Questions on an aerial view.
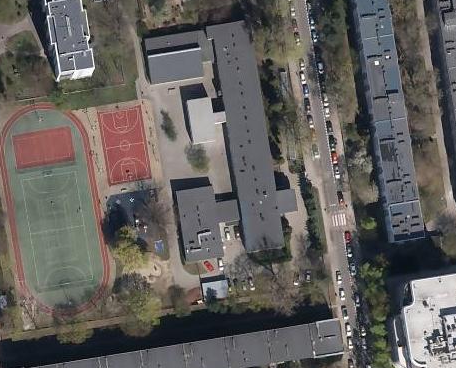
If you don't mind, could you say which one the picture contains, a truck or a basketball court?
basketball court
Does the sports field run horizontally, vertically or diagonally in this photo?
vertically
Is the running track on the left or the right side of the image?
left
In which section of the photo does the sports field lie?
left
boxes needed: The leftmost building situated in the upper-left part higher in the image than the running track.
[41,0,94,82]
